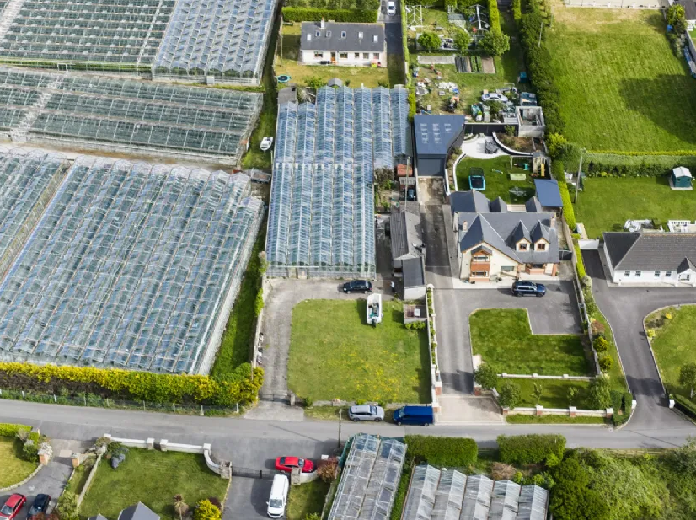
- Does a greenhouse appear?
Yes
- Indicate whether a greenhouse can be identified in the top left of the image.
Yes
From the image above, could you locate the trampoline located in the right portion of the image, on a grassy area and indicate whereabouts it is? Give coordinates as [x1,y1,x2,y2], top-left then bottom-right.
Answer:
[469,167,488,187]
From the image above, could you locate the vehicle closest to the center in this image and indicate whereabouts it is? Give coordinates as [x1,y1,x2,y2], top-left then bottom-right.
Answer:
[340,277,370,293]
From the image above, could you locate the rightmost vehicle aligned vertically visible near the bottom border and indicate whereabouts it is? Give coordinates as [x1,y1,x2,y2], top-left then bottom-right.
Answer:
[267,468,286,515]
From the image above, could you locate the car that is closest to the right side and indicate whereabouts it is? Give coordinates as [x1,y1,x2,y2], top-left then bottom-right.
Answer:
[511,277,547,295]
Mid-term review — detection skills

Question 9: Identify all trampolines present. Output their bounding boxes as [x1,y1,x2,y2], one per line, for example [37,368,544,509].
[469,167,488,187]
[275,73,292,81]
